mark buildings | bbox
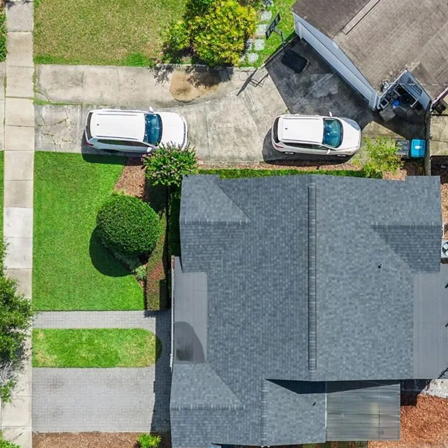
[166,176,448,448]
[294,0,448,111]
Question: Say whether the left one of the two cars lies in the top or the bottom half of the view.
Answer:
top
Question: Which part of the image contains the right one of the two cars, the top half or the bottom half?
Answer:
top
